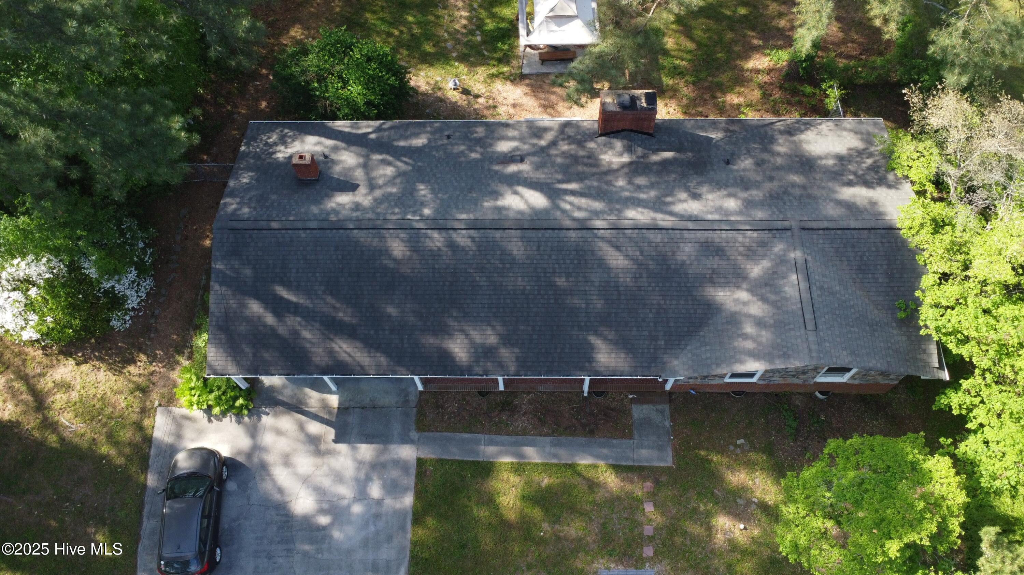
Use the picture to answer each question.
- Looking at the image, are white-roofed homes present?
No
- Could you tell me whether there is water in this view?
No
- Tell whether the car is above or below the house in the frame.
below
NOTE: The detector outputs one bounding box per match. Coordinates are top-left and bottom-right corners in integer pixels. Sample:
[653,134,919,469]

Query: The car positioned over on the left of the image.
[155,446,228,575]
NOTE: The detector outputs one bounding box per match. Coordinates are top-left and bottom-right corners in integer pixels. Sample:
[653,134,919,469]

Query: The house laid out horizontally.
[206,89,948,402]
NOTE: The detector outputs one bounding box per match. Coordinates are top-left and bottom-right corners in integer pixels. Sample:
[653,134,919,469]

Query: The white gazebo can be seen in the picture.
[518,0,602,73]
